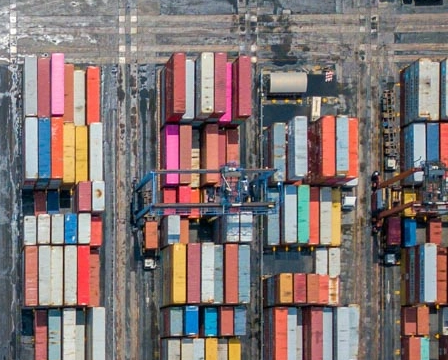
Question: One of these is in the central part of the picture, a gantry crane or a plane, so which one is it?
gantry crane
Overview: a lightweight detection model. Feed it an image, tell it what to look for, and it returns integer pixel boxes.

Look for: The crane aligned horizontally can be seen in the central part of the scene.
[135,166,283,226]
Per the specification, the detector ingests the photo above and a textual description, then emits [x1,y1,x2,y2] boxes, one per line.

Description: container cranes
[375,165,448,225]
[135,166,283,226]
